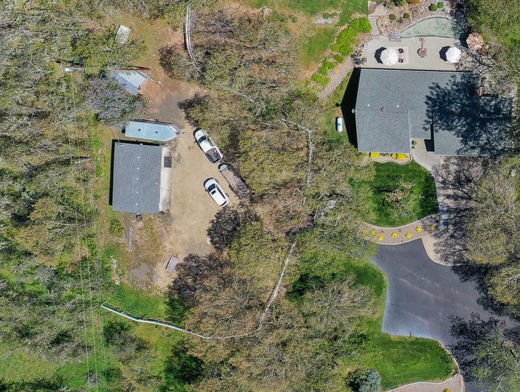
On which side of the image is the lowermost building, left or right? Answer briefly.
left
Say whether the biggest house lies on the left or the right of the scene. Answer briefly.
right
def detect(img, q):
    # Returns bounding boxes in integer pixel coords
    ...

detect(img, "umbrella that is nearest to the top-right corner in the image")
[446,48,461,63]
